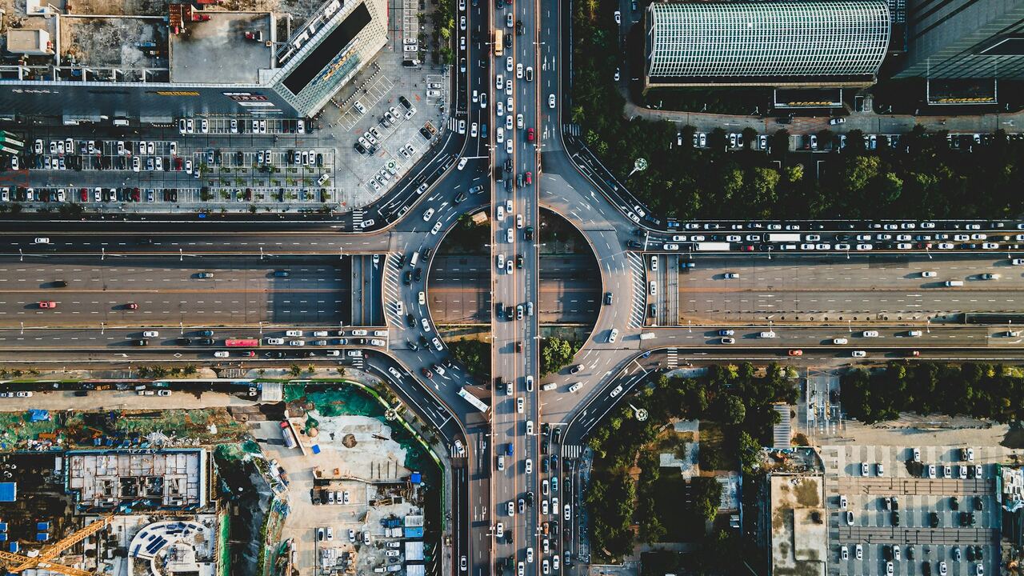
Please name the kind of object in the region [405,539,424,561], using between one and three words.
shed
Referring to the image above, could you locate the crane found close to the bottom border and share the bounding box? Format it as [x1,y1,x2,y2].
[1,514,117,576]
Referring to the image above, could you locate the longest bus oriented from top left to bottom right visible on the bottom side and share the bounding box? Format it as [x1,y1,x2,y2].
[459,387,490,414]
